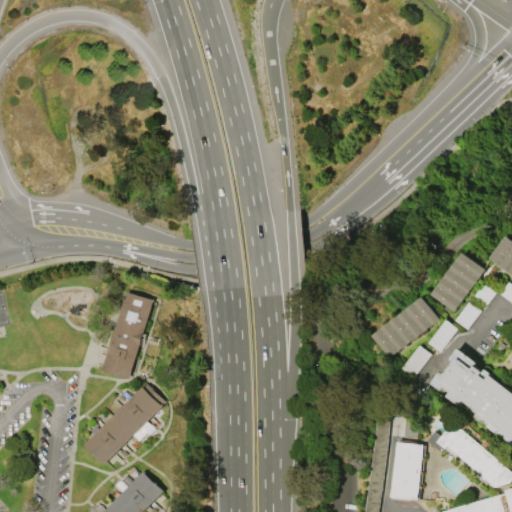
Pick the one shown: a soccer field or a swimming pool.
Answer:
swimming pool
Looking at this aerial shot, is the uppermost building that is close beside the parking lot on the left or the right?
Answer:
left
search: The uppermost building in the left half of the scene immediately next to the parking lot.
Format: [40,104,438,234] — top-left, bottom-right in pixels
[103,292,156,377]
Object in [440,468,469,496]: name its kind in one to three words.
swimming pool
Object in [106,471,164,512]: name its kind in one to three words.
building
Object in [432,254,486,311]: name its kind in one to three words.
building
